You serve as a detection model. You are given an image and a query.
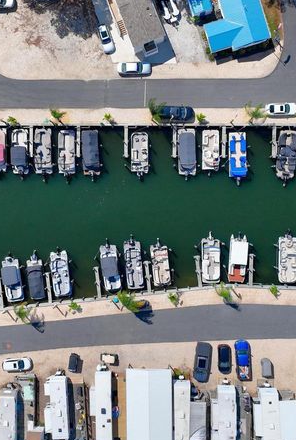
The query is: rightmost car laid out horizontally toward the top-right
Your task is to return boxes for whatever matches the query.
[264,102,296,117]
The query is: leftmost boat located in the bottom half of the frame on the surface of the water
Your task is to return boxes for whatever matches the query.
[0,249,26,306]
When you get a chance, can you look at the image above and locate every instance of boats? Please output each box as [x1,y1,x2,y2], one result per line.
[200,228,220,284]
[7,127,30,184]
[49,241,73,301]
[177,126,196,186]
[123,231,146,292]
[200,127,220,180]
[0,249,26,306]
[277,226,296,285]
[99,234,123,296]
[274,128,296,191]
[227,127,247,188]
[150,236,172,291]
[26,249,47,302]
[128,126,149,184]
[227,231,250,286]
[80,126,101,186]
[32,127,54,184]
[56,127,76,184]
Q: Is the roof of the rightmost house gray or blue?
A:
blue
